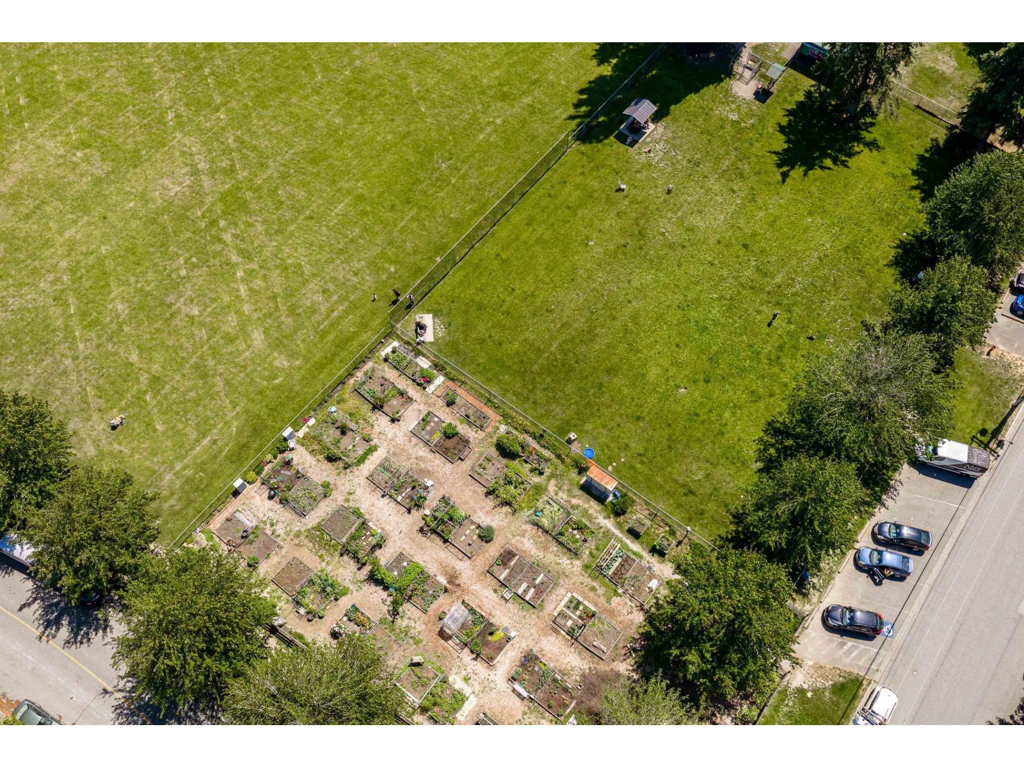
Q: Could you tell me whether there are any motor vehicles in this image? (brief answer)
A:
Yes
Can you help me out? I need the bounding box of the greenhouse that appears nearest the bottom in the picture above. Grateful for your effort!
[437,602,474,643]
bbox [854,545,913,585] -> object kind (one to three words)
car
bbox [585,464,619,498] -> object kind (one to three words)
shed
